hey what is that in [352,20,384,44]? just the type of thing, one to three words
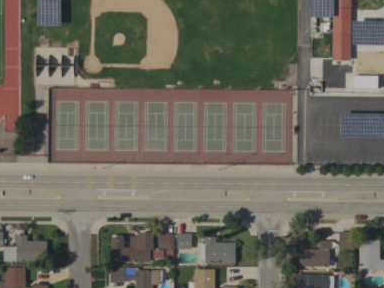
solar panel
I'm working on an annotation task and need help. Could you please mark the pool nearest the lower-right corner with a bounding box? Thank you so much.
[364,275,384,288]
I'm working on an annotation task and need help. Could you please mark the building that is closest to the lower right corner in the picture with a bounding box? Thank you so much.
[360,240,384,272]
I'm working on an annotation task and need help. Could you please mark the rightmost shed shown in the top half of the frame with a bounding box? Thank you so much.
[354,75,379,88]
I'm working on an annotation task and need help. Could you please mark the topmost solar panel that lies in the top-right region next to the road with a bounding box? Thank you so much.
[311,0,335,16]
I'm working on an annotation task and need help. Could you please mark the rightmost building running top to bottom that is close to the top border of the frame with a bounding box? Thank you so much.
[333,0,352,60]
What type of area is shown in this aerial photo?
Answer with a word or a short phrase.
sports ground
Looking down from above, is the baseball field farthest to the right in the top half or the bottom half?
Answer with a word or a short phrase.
top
